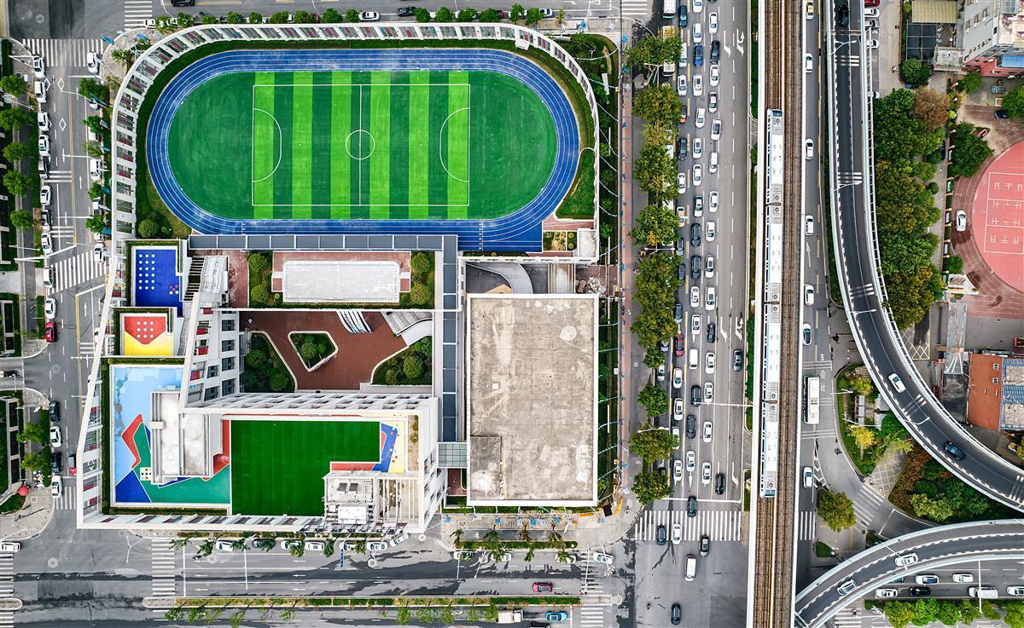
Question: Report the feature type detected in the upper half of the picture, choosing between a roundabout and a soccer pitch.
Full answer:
There is a soccer pitch in the upper half of the picture.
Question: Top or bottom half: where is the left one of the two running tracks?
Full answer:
The left one of the two running tracks is in the top half of the image.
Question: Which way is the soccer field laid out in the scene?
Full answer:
The soccer field is laid out horizontally.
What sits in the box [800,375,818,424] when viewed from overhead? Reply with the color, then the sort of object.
white vehicle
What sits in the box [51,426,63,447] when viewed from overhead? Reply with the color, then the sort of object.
white vehicle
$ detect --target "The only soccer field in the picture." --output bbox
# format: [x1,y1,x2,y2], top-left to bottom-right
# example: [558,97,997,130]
[168,70,557,219]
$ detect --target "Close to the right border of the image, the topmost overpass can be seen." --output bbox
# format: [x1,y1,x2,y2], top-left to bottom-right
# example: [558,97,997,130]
[824,0,1024,512]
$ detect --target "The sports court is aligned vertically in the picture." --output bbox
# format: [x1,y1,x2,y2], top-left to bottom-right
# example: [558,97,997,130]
[973,141,1024,295]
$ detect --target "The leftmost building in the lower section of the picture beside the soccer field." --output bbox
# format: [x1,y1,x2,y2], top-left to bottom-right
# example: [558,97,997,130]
[76,240,438,532]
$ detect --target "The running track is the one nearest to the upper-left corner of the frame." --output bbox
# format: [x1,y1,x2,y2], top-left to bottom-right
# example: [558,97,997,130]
[144,46,581,252]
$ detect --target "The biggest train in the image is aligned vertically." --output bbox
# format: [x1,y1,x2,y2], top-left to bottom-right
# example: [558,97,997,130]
[758,110,780,496]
